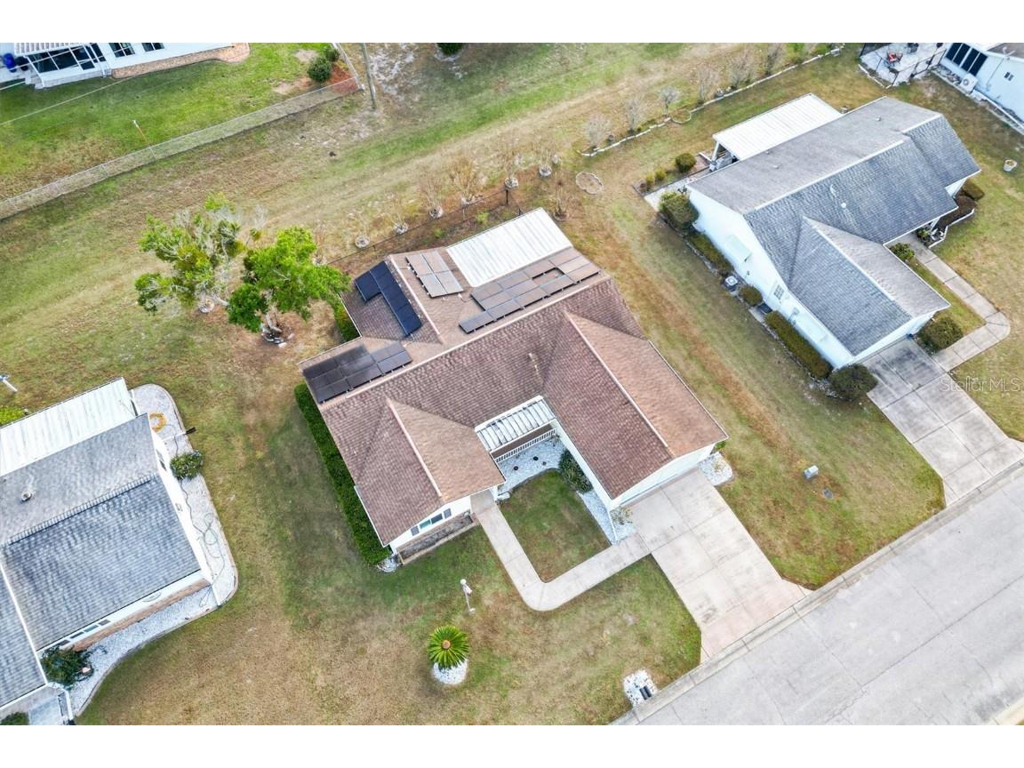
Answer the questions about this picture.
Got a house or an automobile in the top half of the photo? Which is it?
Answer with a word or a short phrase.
house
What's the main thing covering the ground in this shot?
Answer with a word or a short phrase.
grass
